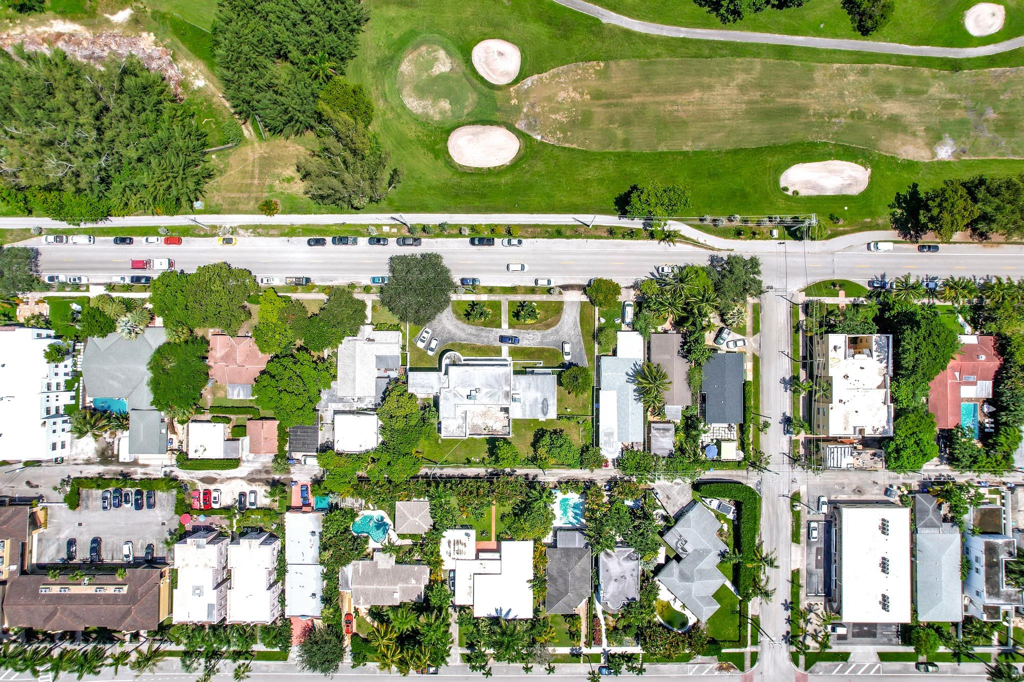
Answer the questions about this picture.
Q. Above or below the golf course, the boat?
below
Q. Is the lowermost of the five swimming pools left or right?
right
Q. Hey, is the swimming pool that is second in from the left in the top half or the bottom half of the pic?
bottom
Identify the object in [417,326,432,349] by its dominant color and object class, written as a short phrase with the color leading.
white car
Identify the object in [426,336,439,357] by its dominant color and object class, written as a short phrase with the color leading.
white vehicle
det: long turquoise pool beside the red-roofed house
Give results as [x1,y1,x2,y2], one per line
[958,398,995,444]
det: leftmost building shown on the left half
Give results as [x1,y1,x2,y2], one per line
[0,325,79,459]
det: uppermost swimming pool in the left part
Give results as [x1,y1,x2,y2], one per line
[86,396,129,417]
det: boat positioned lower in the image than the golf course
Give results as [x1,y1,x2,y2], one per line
[700,496,738,518]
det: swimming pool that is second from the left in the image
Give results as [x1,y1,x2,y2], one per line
[350,509,414,550]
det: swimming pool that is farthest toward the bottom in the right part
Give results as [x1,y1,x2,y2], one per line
[653,579,698,634]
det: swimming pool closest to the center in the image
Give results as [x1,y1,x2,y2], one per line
[552,491,586,528]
